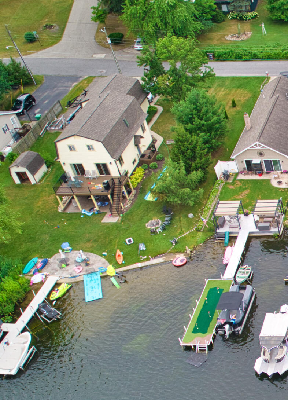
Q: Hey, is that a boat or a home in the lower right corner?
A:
boat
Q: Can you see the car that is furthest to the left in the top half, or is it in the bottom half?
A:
top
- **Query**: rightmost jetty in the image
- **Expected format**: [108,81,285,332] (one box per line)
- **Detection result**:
[219,233,248,281]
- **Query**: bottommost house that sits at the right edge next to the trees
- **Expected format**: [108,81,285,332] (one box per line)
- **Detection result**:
[231,73,288,172]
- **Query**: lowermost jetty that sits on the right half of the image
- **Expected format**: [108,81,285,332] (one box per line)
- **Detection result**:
[178,276,234,351]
